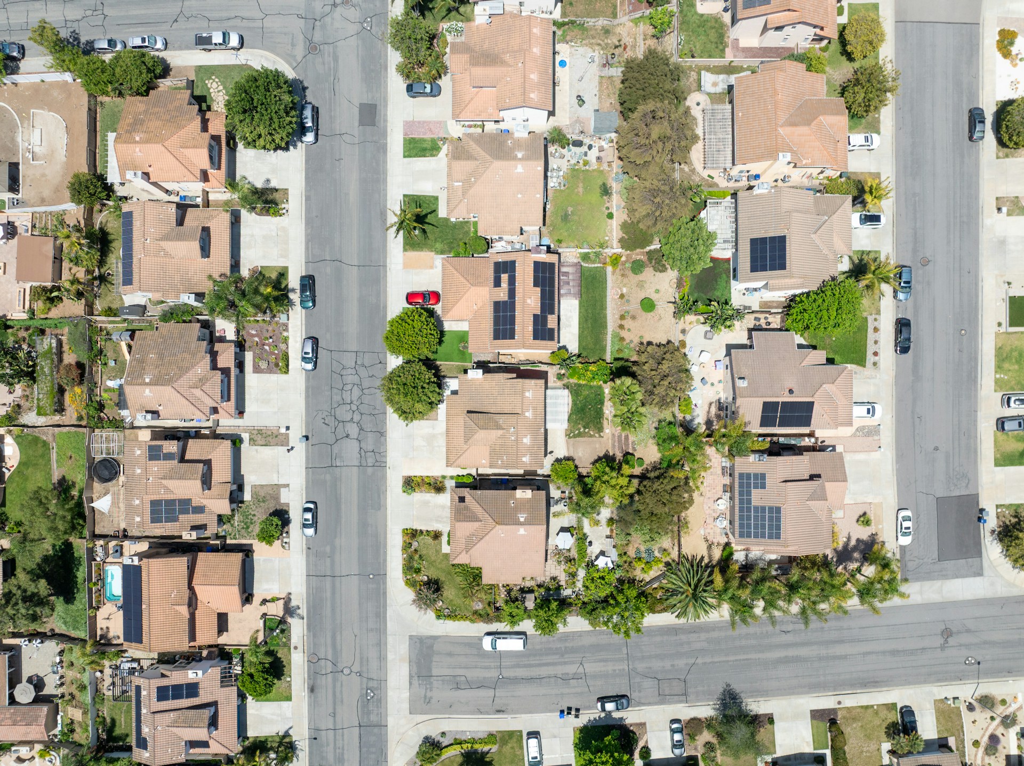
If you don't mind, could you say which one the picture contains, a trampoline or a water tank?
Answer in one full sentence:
There is a trampoline in the scene.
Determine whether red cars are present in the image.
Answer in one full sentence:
Yes, there's a red car down there.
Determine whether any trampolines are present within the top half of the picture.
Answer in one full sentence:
No, no trampoline can be made out within the top half of the picture.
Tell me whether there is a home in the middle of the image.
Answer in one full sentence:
Yes, looking in the middle of the image, one can make out a home.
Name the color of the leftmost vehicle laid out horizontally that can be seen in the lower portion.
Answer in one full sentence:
From above, the leftmost vehicle laid out horizontally that can be seen in the lower portion appears white.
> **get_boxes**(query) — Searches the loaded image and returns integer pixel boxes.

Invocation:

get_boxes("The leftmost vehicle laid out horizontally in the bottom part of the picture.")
[483,632,527,653]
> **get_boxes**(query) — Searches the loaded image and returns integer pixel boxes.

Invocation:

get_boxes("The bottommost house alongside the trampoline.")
[123,439,240,539]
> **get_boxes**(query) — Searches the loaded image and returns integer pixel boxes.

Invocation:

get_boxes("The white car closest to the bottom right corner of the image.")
[896,509,915,545]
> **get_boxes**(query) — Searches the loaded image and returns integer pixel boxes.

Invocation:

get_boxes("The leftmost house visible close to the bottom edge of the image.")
[0,648,60,742]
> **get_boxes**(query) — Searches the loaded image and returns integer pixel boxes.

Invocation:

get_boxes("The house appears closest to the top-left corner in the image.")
[109,90,231,194]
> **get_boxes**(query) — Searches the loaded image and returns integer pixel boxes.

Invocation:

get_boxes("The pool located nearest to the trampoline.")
[104,565,121,603]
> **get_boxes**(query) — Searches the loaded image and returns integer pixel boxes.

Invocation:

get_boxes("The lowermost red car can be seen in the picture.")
[407,289,439,306]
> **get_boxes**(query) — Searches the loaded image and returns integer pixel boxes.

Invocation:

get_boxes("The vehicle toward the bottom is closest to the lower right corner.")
[899,702,921,738]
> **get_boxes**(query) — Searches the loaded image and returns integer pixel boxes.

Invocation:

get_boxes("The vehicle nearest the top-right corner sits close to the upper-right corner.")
[967,107,988,143]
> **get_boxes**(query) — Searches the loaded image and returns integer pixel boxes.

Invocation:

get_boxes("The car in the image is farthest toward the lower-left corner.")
[300,501,318,537]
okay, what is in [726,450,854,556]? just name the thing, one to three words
house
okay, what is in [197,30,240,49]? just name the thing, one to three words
vehicle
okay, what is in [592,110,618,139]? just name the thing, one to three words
shed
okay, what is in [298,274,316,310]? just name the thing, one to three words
car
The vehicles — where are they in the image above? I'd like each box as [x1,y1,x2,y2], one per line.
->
[406,79,441,98]
[129,33,166,52]
[407,289,439,306]
[298,274,316,310]
[854,402,886,419]
[197,30,240,49]
[899,702,921,738]
[300,501,318,537]
[595,694,631,713]
[526,731,543,766]
[1001,394,1024,408]
[967,107,988,143]
[848,131,883,150]
[895,265,914,301]
[995,416,1024,433]
[896,509,915,545]
[670,720,687,757]
[93,36,126,54]
[483,632,527,653]
[894,319,913,354]
[300,105,318,142]
[300,336,318,371]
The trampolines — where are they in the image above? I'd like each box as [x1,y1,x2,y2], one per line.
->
[89,457,119,485]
